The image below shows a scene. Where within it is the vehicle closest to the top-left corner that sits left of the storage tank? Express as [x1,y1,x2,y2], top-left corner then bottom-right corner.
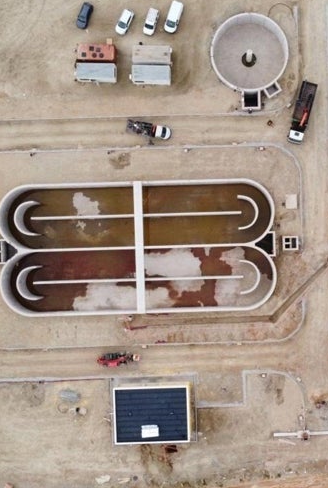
[77,1,94,31]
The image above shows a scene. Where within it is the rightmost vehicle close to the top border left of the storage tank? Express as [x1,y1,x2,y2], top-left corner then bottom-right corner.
[164,0,184,35]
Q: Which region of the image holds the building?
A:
bottom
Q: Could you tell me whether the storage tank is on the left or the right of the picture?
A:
right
